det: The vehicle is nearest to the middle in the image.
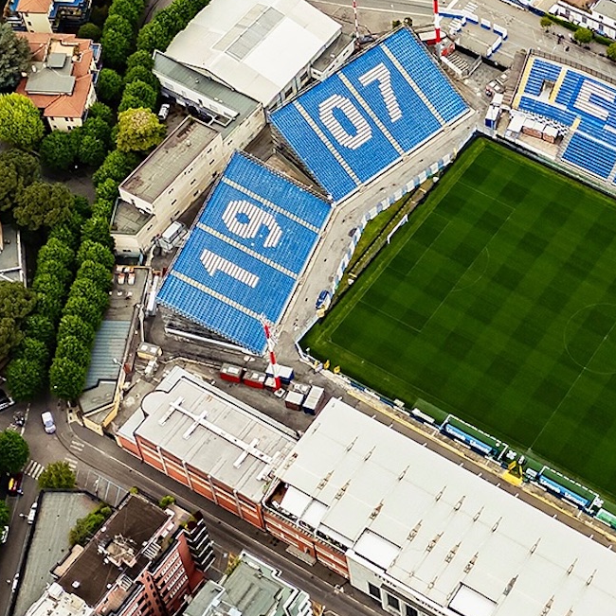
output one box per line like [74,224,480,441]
[315,286,330,306]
